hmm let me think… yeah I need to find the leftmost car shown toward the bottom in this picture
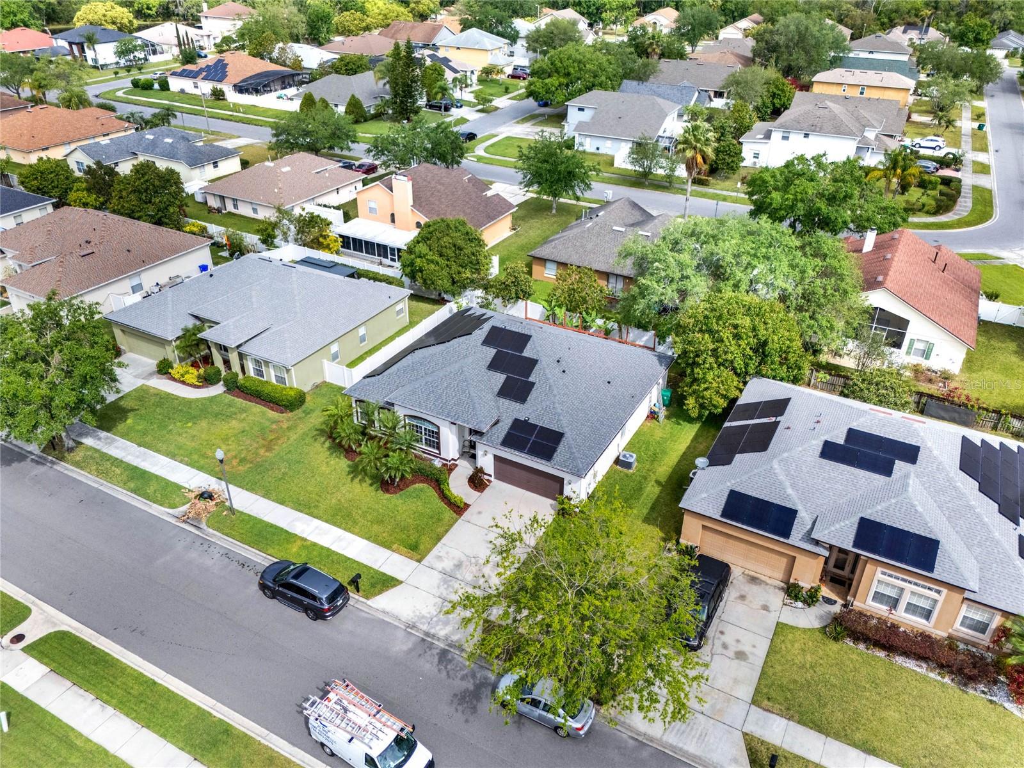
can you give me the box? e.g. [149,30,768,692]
[257,558,354,622]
